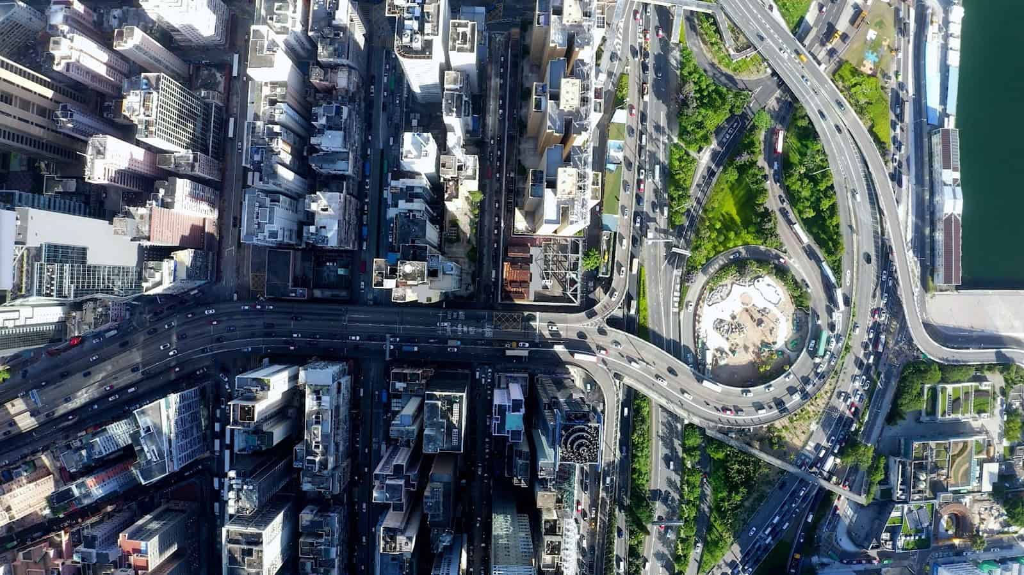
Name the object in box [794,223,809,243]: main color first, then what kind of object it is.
white vehicle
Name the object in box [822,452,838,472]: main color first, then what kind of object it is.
white vehicle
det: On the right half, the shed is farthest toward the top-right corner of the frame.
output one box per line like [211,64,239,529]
[941,5,963,68]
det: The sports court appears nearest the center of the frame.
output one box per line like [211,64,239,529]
[603,168,620,214]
